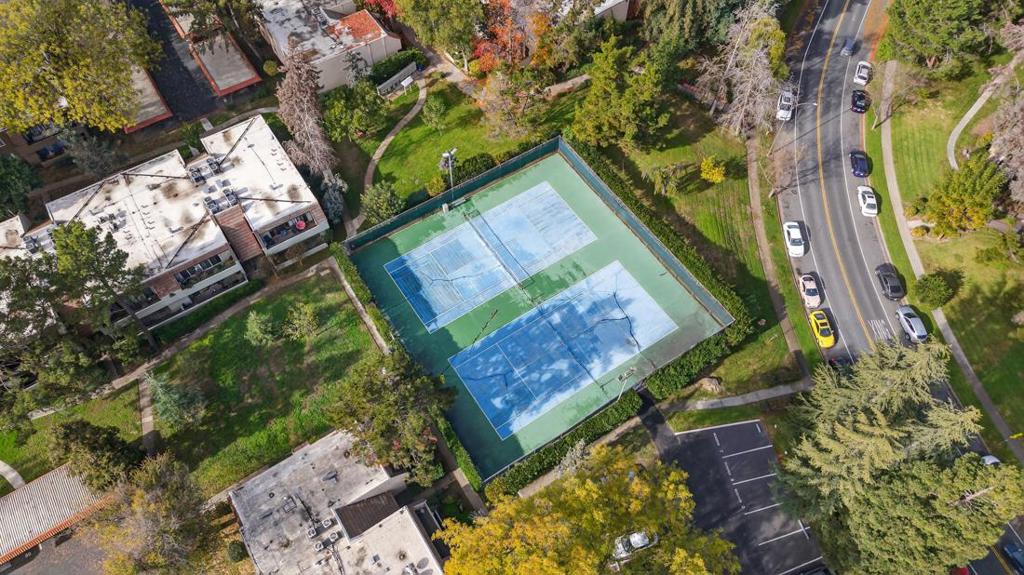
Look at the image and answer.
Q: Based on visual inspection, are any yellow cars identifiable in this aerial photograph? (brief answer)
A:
Yes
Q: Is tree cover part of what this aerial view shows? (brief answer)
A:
Yes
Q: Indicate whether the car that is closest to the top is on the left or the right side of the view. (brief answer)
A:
right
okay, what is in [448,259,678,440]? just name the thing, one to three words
tennis court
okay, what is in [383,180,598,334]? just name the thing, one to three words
tennis court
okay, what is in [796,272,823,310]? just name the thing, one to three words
car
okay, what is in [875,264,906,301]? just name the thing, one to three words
car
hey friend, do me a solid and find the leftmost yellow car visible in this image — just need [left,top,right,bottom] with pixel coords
[806,309,835,350]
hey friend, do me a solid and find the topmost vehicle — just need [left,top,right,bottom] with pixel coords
[838,36,860,59]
